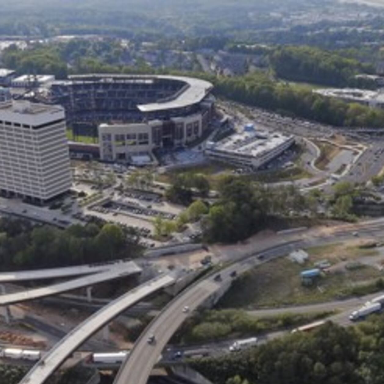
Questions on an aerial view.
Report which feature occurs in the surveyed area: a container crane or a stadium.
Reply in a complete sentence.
This aerial view contains a stadium.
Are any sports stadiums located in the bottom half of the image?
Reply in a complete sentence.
No, looking in the bottom half of the image, there is no sports stadium.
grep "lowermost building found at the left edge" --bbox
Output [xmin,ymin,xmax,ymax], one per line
[0,99,75,205]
